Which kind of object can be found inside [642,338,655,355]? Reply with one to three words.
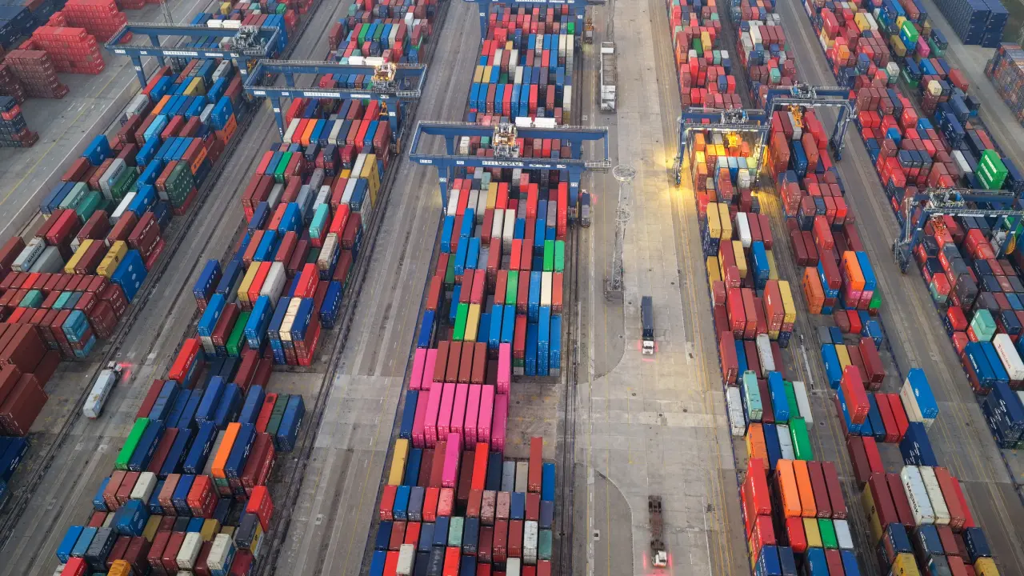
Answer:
vehicle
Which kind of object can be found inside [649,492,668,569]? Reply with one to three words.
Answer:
vehicle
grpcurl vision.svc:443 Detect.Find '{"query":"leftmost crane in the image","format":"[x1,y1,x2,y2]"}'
[103,14,281,104]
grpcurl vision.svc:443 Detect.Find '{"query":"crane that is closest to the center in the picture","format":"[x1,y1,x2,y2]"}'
[408,109,615,224]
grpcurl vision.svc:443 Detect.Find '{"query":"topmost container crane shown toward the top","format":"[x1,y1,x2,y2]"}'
[452,0,606,57]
